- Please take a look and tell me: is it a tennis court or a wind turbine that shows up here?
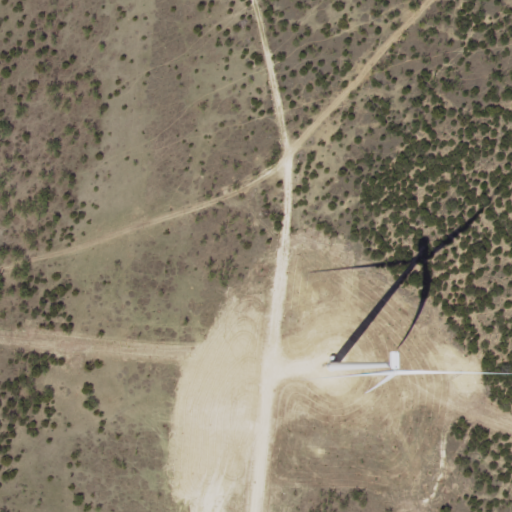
wind turbine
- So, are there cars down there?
No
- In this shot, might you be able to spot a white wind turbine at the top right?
No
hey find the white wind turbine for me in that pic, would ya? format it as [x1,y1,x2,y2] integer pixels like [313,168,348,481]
[296,351,510,392]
